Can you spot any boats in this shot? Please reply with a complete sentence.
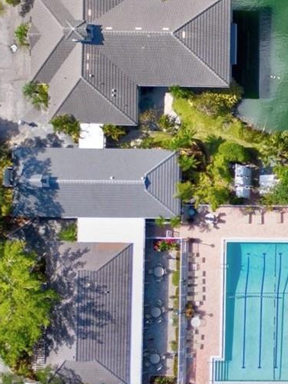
No, this view has no boat in it.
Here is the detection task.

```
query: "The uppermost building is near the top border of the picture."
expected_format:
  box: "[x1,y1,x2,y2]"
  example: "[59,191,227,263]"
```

[30,0,242,126]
